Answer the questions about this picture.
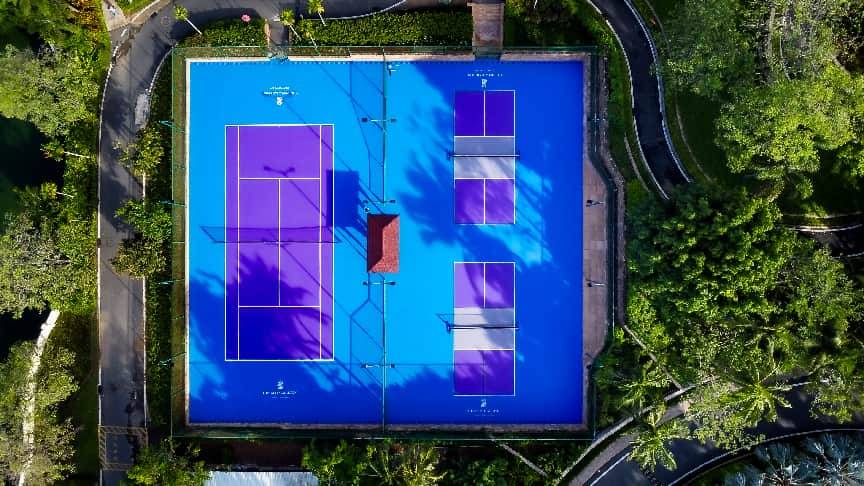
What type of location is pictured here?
sports ground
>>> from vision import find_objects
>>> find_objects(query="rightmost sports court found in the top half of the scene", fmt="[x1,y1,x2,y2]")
[386,62,583,243]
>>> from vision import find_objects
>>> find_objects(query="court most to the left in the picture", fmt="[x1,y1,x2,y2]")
[189,62,386,424]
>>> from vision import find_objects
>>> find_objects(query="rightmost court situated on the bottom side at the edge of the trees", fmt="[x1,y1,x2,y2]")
[386,243,583,424]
